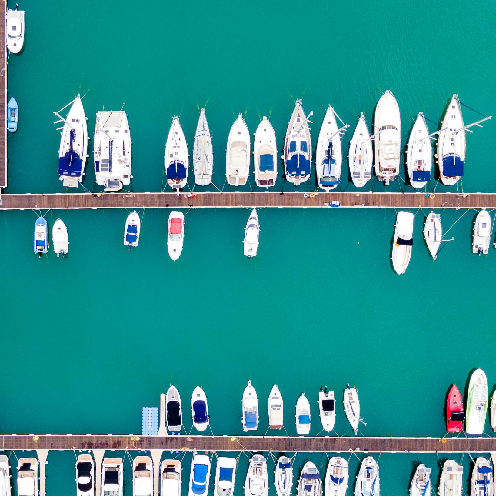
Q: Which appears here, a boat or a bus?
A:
boat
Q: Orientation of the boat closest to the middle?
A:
up and down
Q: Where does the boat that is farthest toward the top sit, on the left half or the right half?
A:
left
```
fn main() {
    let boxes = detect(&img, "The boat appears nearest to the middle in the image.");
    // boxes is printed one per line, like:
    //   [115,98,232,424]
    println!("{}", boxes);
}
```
[241,207,262,259]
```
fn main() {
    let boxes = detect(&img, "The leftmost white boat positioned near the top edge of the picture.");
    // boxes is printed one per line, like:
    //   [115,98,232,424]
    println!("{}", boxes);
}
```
[5,2,25,53]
